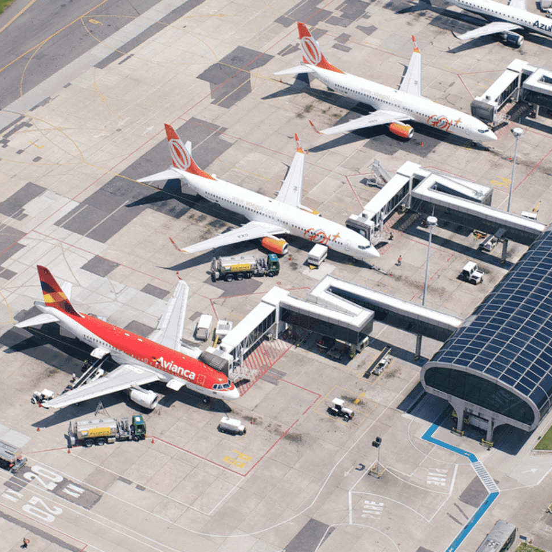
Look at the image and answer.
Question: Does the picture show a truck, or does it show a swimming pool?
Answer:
truck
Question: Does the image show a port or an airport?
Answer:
airport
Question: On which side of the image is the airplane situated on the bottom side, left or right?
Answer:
left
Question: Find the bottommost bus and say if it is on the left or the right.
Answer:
right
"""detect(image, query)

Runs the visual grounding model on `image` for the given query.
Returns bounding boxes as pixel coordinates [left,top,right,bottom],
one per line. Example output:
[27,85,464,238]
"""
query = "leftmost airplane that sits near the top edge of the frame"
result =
[274,23,493,147]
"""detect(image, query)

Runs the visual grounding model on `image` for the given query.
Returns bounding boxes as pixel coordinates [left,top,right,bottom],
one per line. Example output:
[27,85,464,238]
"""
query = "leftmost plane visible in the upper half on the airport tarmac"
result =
[135,124,377,263]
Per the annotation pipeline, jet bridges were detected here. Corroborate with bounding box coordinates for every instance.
[205,275,464,398]
[466,60,552,144]
[347,162,549,264]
